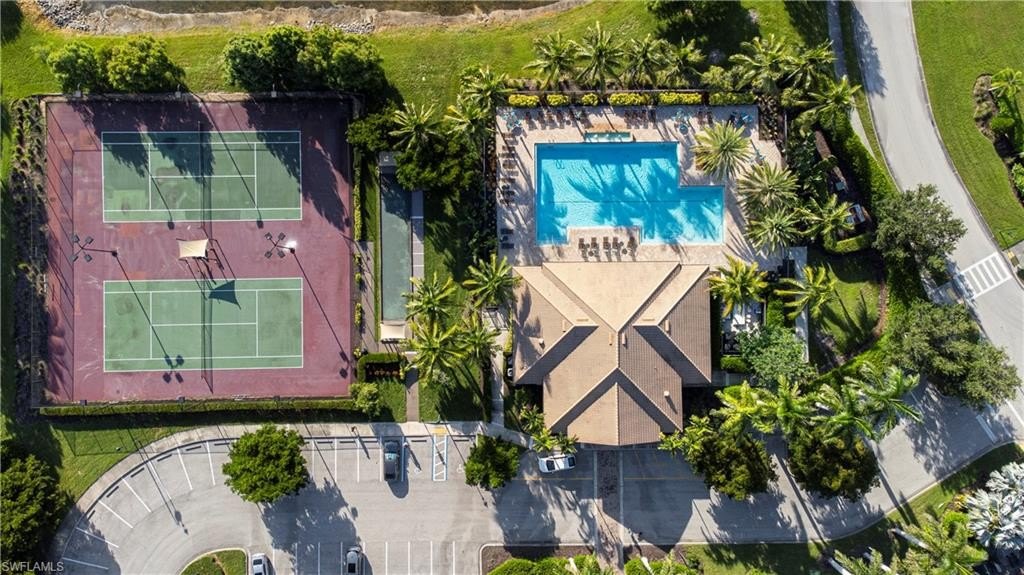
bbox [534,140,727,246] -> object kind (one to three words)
swimming pool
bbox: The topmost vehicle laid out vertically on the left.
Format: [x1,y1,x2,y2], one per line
[382,439,401,480]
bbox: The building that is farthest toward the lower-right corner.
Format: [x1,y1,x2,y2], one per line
[513,261,712,447]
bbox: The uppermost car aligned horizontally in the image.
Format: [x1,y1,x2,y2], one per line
[537,454,576,475]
